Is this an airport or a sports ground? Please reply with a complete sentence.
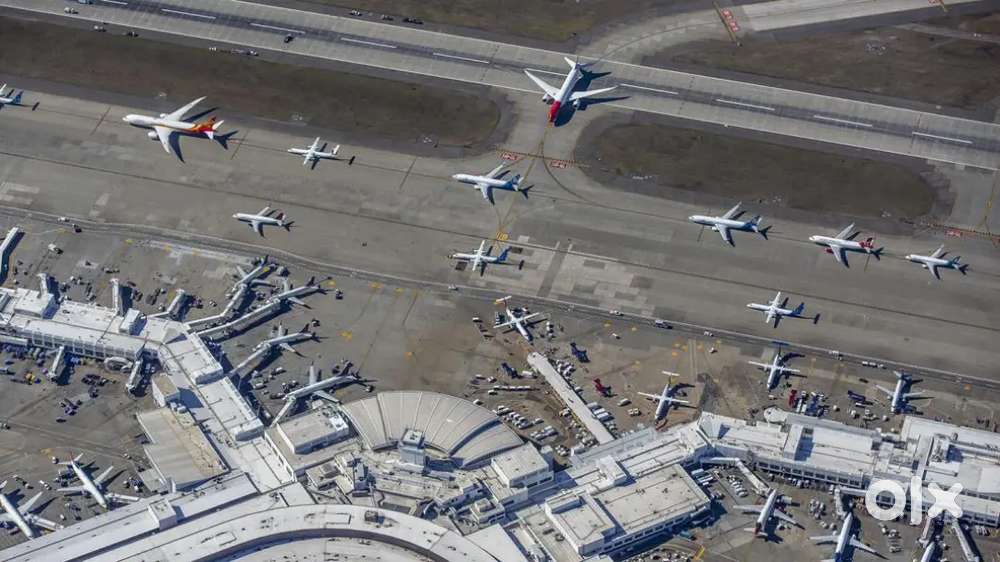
This image shows an airport.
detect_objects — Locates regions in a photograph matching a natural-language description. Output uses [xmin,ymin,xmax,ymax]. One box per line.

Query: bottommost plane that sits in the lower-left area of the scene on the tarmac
[0,484,40,538]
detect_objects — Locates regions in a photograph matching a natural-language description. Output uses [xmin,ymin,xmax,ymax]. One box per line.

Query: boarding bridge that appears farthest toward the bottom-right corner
[948,516,978,562]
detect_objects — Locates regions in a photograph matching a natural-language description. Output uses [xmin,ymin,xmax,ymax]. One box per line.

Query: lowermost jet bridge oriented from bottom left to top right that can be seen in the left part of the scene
[269,394,298,430]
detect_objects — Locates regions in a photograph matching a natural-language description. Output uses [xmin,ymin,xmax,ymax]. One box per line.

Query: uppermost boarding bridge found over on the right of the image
[702,457,772,498]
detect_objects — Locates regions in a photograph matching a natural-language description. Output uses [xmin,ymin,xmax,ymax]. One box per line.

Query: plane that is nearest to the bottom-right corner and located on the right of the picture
[889,538,940,562]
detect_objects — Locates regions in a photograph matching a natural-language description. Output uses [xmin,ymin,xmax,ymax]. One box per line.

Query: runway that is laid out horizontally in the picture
[0,0,1000,169]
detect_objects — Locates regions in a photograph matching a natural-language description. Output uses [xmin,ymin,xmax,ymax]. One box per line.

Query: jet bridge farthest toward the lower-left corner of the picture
[22,510,60,534]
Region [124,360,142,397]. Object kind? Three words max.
jet bridge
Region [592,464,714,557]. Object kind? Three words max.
building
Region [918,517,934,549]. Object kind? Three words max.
jet bridge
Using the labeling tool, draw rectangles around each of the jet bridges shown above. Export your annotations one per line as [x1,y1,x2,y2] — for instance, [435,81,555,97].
[124,360,142,397]
[835,489,864,526]
[227,342,276,381]
[184,281,250,332]
[918,517,934,549]
[48,346,65,387]
[269,394,298,430]
[22,510,60,534]
[110,277,122,315]
[702,457,772,498]
[37,271,50,295]
[103,492,142,505]
[146,287,186,319]
[948,516,978,562]
[196,295,284,340]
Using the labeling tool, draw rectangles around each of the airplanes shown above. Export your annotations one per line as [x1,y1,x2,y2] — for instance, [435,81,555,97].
[689,202,763,240]
[809,224,874,261]
[54,451,115,509]
[287,137,341,164]
[282,363,357,402]
[874,367,924,414]
[0,484,40,538]
[889,538,940,562]
[232,256,276,294]
[748,341,801,388]
[267,277,320,306]
[905,245,962,275]
[453,238,511,270]
[232,203,287,233]
[730,491,796,537]
[126,98,228,153]
[452,162,524,199]
[808,515,877,562]
[257,324,313,353]
[638,370,689,419]
[746,290,806,322]
[524,47,619,122]
[493,296,540,340]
